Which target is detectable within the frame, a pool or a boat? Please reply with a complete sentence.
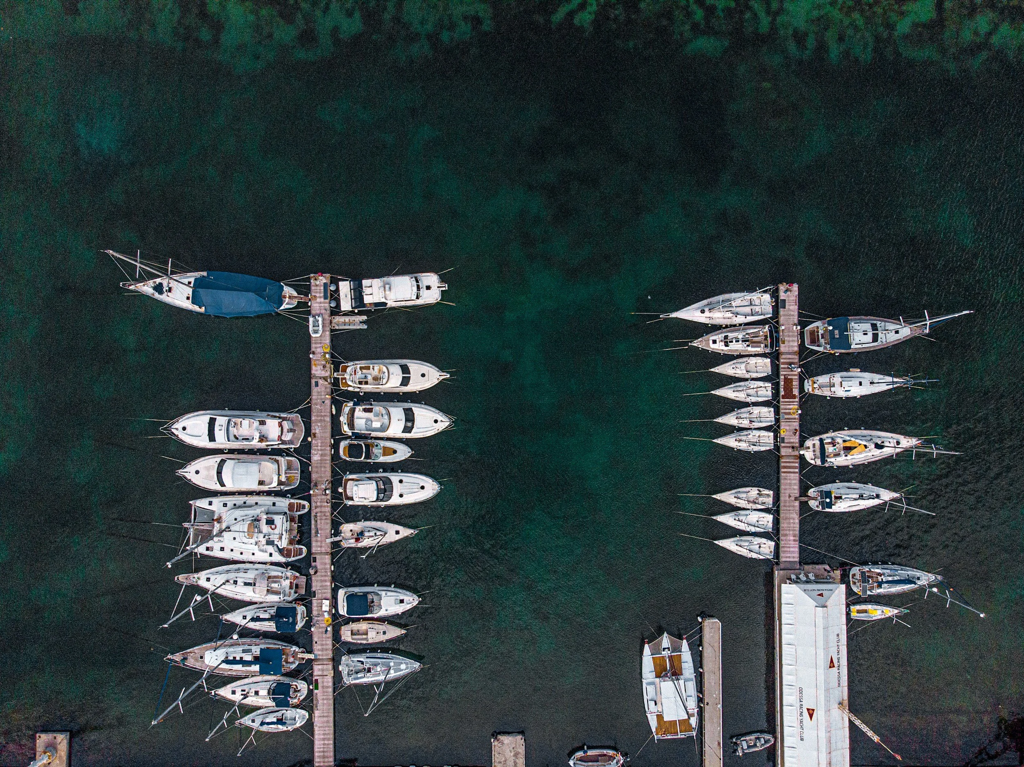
The image shows a boat.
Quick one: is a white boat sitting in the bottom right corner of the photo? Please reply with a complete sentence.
Yes, a white boat can be seen in the bottom right corner of the photo.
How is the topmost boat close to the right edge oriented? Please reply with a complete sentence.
In this picture, the topmost boat close to the right edge is oriented from side to side.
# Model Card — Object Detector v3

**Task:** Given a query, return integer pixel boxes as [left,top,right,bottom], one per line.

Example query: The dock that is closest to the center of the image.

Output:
[331,316,368,329]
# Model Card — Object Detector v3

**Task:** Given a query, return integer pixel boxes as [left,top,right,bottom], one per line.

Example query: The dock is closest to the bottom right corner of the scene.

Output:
[701,618,722,767]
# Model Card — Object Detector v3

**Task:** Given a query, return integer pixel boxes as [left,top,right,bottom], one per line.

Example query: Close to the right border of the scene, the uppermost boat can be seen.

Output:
[800,310,974,353]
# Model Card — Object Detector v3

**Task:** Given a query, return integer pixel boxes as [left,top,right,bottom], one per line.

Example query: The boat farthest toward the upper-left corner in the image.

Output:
[98,250,301,318]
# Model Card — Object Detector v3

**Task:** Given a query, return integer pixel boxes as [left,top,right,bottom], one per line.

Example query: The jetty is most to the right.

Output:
[778,285,799,560]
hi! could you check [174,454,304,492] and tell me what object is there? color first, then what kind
white boat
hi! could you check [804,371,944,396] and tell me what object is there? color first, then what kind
white boat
